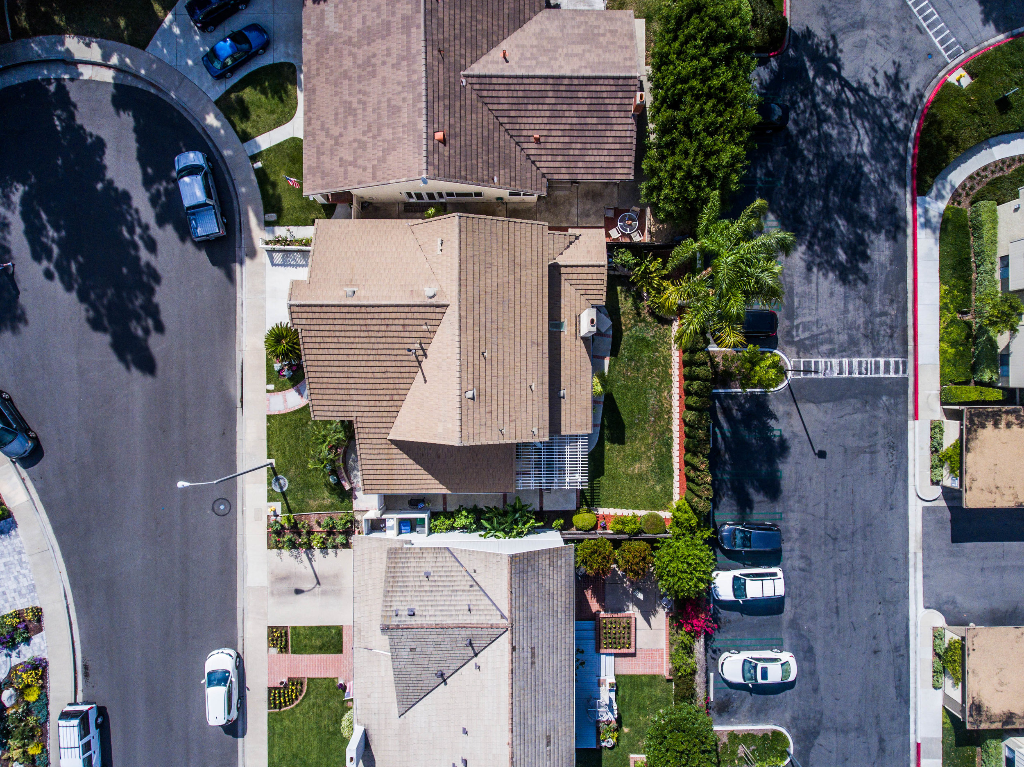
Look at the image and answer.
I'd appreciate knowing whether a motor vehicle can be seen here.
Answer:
Yes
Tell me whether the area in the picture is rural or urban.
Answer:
urban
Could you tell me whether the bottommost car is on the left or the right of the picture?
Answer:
left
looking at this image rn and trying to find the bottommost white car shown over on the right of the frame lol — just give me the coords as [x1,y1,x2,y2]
[716,649,797,691]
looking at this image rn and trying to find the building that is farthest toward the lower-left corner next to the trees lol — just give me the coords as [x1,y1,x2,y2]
[346,530,576,767]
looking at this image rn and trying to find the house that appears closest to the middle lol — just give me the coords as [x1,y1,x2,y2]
[286,211,609,497]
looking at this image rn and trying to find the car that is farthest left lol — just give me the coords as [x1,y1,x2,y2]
[0,383,41,460]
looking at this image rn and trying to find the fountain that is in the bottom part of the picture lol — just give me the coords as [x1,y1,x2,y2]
[271,476,288,493]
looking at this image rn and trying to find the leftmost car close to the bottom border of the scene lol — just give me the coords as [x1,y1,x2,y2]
[56,698,107,767]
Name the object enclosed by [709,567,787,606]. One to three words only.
car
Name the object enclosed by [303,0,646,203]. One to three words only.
house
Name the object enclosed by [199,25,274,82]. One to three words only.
car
